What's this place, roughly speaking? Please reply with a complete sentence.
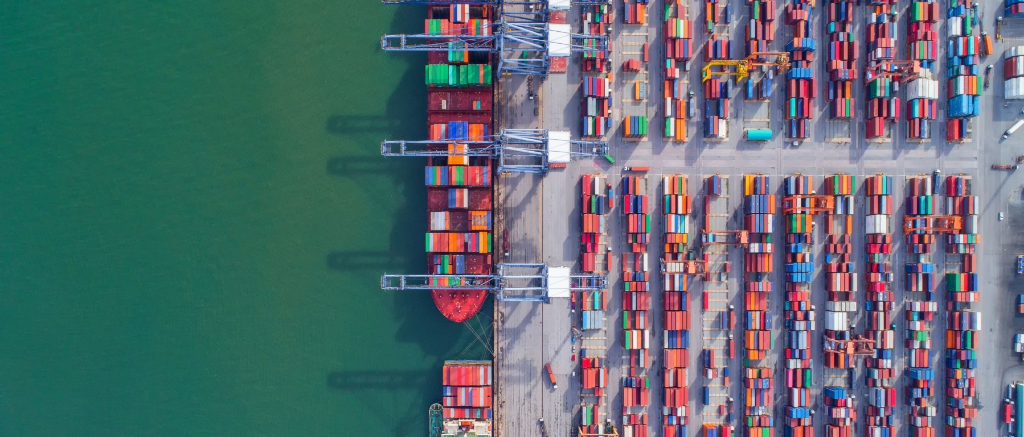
The area seen from above is a port.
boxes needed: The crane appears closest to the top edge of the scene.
[379,0,609,43]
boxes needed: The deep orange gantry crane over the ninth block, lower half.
[903,214,963,236]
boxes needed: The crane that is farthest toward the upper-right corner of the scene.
[863,59,921,87]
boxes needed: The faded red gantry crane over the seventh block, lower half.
[822,333,875,359]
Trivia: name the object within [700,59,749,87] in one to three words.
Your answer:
crane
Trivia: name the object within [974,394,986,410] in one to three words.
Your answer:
vehicle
